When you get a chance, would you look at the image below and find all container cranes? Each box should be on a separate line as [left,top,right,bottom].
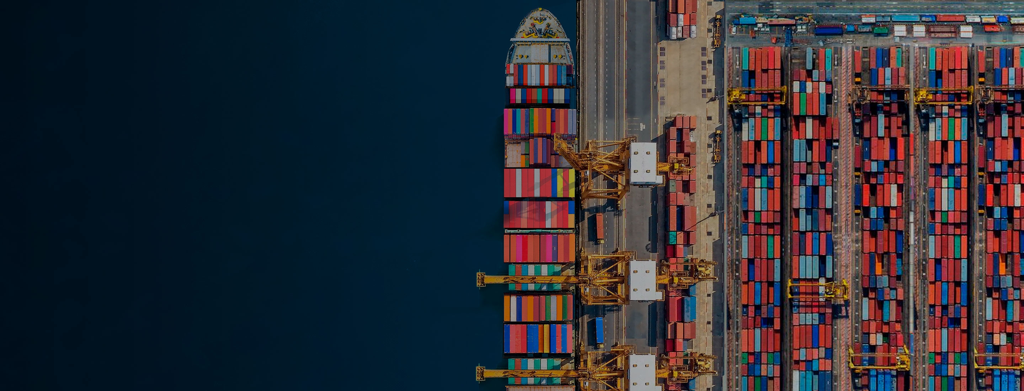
[726,85,787,109]
[847,85,912,107]
[476,250,718,307]
[969,85,1024,107]
[967,349,1024,369]
[476,337,718,391]
[550,130,694,190]
[846,349,913,369]
[910,85,974,109]
[786,279,848,300]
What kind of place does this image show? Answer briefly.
port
